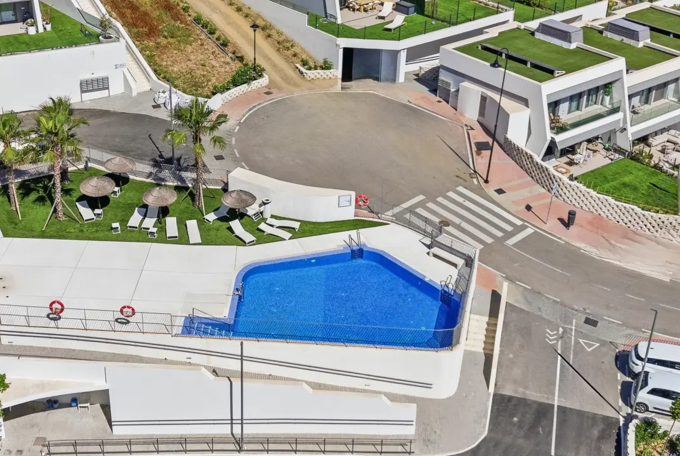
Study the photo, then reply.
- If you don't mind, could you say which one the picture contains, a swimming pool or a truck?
swimming pool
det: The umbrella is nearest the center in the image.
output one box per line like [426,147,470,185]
[221,184,261,219]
